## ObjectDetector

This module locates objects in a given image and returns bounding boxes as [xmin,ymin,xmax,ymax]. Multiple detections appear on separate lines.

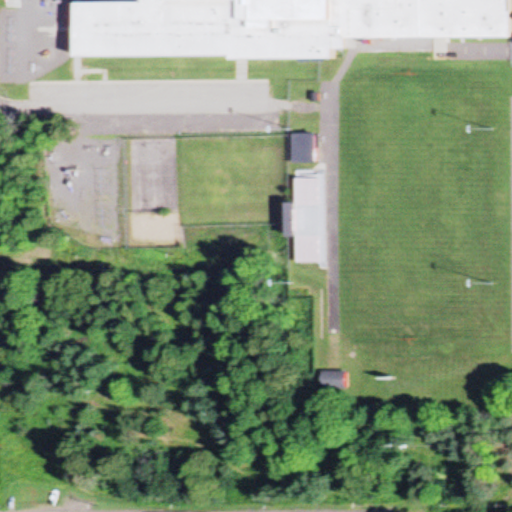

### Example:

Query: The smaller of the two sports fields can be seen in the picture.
[184,138,284,224]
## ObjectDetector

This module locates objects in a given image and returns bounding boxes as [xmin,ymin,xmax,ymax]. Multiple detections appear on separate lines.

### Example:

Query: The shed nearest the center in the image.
[290,134,316,162]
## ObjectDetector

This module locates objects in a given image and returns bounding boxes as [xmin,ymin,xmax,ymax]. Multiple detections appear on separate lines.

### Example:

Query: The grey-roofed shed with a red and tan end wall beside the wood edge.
[319,371,347,388]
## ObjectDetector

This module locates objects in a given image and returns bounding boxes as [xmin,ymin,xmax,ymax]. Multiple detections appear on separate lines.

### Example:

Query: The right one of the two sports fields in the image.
[338,60,512,408]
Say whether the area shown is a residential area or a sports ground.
sports ground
